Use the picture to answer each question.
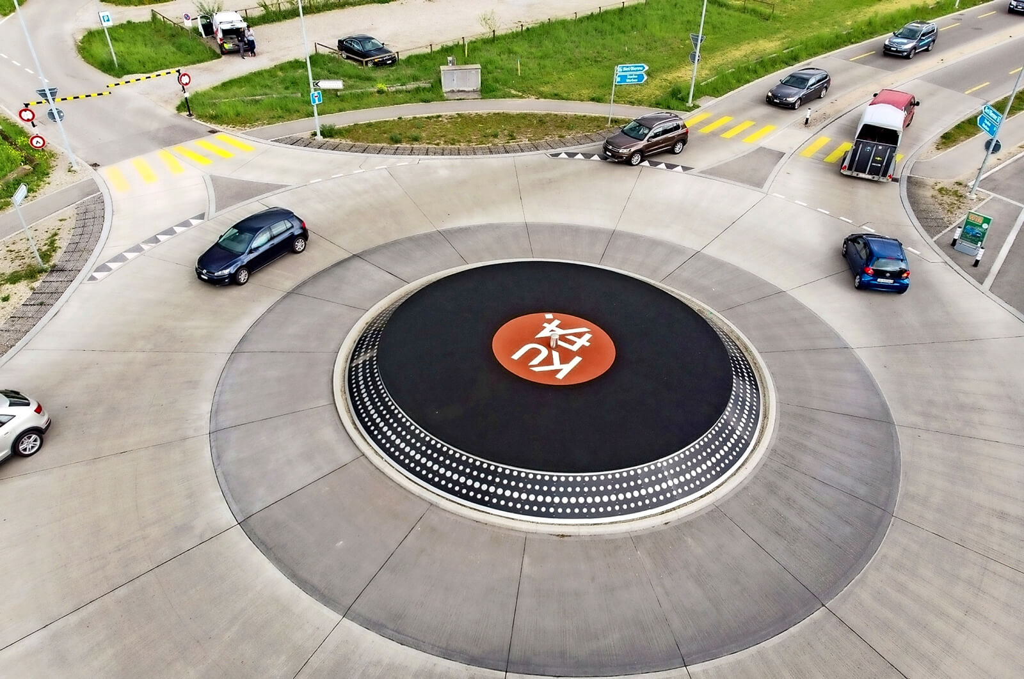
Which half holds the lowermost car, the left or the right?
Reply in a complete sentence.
You can find the lowermost car on the left side of the picture.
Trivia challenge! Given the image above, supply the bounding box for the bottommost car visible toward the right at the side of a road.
[844,233,914,294]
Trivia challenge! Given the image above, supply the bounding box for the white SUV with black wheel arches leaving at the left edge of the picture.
[0,388,45,463]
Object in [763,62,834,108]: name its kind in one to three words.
car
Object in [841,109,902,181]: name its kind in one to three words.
trailer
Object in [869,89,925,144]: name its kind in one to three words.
van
